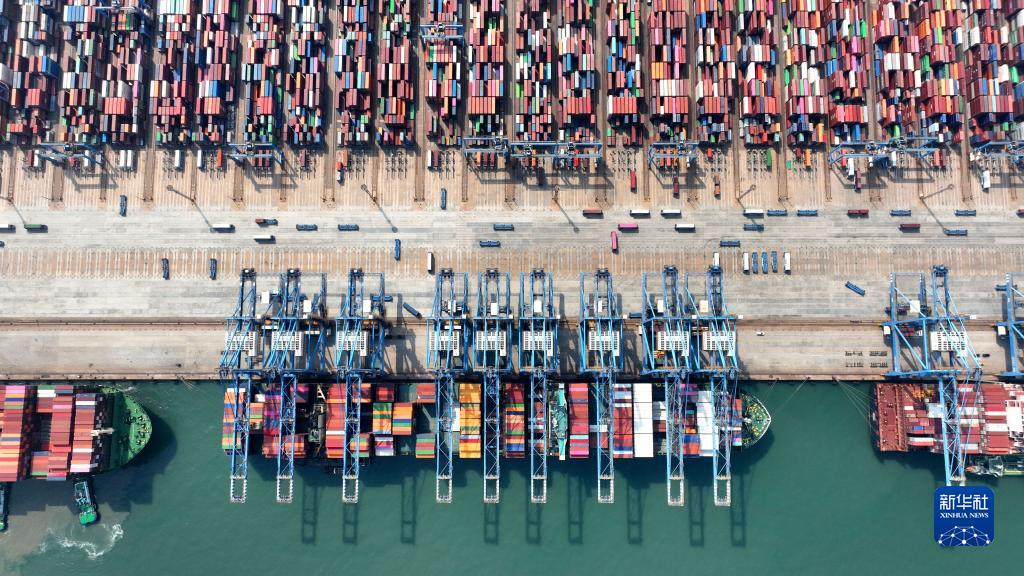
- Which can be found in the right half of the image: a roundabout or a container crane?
container crane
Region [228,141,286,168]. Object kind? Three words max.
container crane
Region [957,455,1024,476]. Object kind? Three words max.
vessel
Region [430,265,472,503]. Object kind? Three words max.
container crane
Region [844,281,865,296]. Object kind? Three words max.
vehicle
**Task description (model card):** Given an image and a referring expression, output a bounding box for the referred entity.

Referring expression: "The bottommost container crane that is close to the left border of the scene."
[40,141,106,168]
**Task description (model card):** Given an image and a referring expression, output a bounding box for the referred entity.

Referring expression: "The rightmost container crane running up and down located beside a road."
[993,272,1024,377]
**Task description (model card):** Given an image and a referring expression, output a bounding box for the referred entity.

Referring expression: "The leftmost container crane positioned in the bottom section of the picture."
[216,265,293,503]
